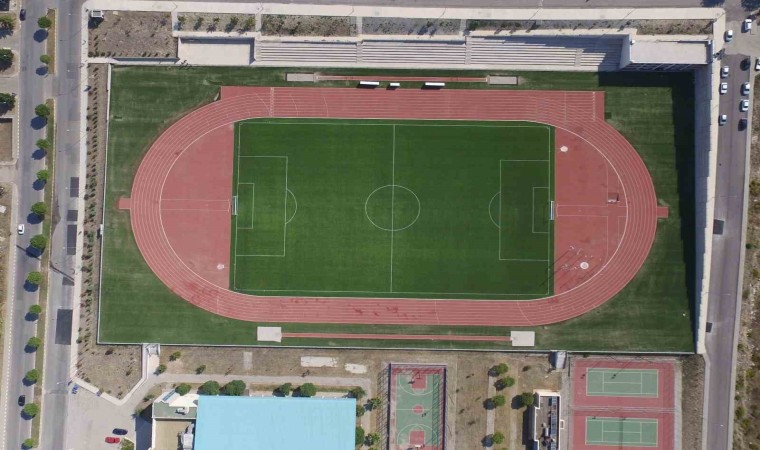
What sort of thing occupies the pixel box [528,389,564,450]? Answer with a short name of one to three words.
building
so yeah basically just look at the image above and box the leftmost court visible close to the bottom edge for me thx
[390,365,444,450]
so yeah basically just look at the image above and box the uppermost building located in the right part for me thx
[620,36,711,73]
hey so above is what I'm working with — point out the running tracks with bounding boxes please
[118,87,668,324]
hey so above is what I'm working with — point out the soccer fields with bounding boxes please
[232,119,554,299]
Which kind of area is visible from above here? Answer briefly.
sports ground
